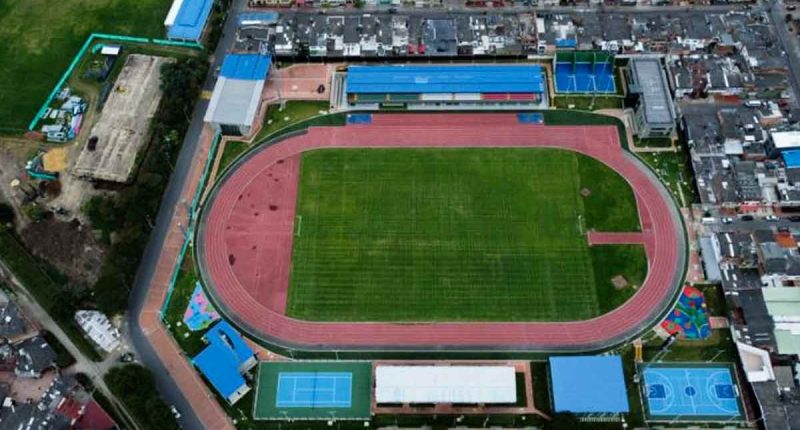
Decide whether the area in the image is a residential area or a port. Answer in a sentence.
This looks like a residential area.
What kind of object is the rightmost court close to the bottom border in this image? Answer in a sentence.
I'd identify the rightmost court close to the bottom border as a basketball court.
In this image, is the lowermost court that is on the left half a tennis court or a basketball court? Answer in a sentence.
It looks like the lowermost court that is on the left half is a tennis court.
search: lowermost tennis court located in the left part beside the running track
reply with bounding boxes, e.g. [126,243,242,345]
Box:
[254,362,372,419]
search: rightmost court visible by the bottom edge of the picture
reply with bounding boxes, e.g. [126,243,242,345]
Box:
[637,364,747,421]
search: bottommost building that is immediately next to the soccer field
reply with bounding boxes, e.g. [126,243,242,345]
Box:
[376,366,516,407]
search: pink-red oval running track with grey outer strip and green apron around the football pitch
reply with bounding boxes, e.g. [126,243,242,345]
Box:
[192,108,691,360]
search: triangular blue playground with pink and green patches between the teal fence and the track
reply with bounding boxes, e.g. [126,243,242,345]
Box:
[184,282,220,331]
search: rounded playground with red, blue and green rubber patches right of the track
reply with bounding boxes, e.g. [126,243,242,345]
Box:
[662,287,710,339]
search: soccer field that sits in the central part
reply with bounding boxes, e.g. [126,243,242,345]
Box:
[287,146,649,322]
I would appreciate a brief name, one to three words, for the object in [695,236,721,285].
shed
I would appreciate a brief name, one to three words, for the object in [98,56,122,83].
shed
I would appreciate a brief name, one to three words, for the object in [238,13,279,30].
building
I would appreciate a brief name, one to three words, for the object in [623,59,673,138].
building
